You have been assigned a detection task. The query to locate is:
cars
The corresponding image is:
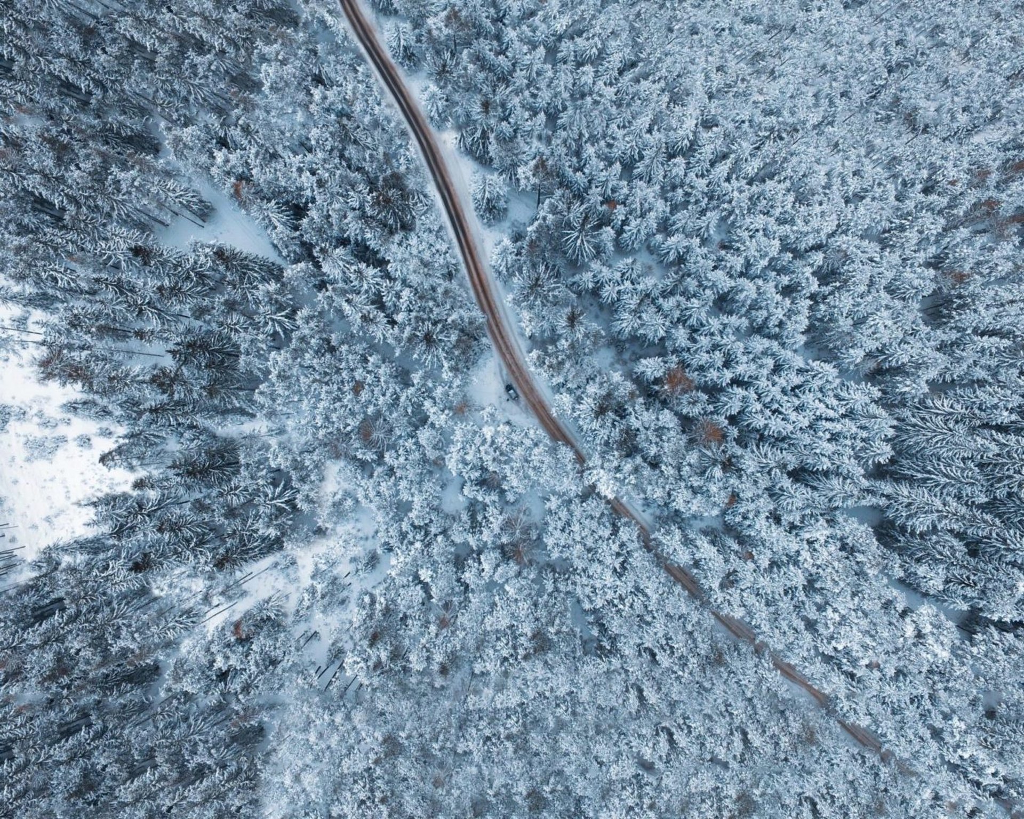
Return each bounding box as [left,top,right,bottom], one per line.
[506,383,519,402]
